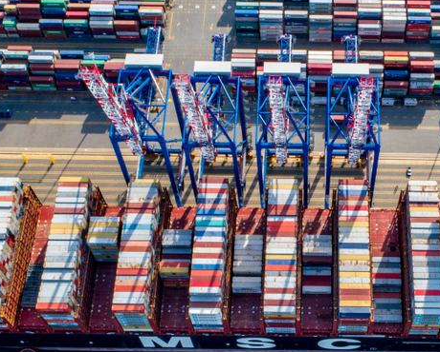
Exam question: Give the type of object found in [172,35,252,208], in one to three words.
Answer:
container crane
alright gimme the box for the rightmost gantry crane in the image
[322,37,380,209]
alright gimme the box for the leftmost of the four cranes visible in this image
[79,34,189,207]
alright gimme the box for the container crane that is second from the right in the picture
[255,36,312,209]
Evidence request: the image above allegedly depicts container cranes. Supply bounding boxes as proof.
[79,34,189,207]
[255,36,312,209]
[172,35,252,208]
[322,37,380,209]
